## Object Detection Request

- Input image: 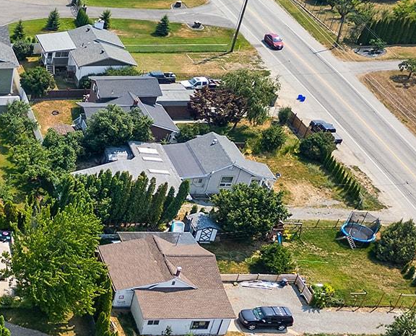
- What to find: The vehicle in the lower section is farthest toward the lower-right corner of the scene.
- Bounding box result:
[238,306,299,333]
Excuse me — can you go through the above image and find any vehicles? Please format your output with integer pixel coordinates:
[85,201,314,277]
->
[238,306,299,333]
[143,68,184,83]
[265,32,284,46]
[179,74,219,87]
[310,117,340,141]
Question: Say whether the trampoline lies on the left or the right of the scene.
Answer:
right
